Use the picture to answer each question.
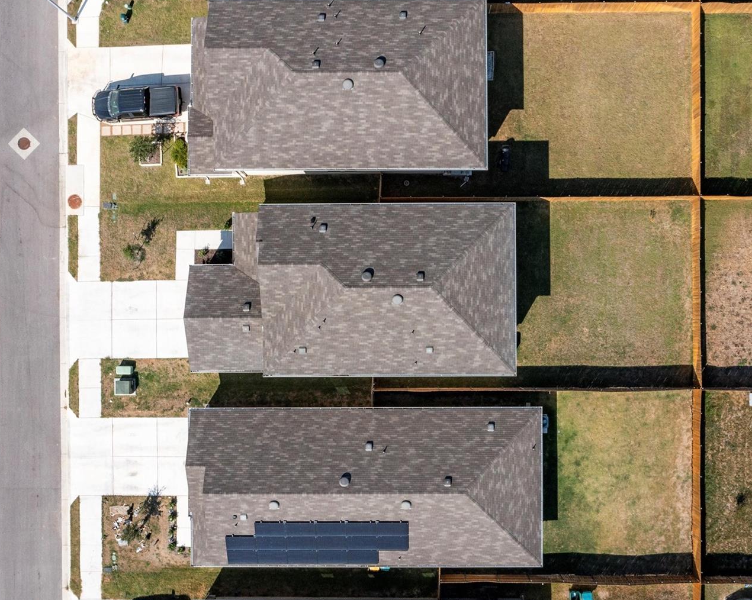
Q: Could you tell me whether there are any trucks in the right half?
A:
No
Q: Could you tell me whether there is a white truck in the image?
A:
No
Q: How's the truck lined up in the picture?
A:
from left to right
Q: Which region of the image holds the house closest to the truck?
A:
top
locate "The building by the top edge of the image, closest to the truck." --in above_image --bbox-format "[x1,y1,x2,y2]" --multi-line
[185,0,487,194]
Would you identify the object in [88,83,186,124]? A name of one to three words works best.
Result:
truck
